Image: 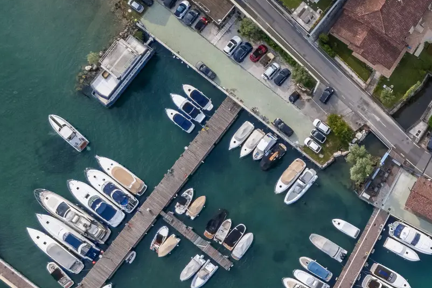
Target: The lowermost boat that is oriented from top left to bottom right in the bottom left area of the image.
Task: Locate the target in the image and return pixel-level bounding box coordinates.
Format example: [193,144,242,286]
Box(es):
[45,261,80,288]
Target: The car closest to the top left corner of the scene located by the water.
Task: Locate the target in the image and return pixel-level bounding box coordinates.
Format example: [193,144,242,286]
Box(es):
[128,0,147,16]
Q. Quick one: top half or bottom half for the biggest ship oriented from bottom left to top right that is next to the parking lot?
top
